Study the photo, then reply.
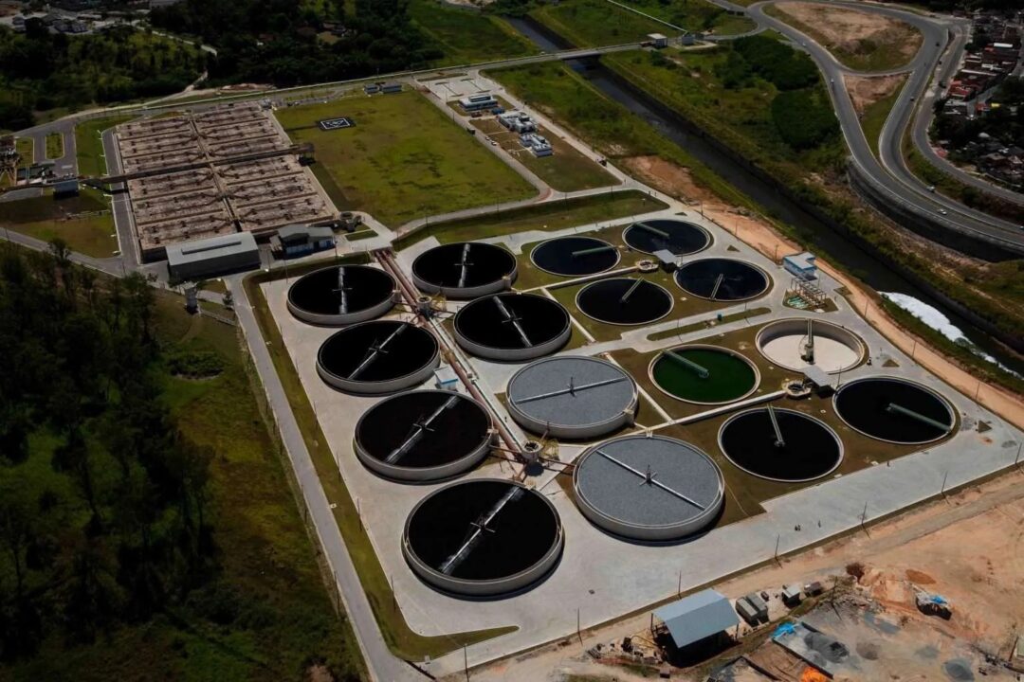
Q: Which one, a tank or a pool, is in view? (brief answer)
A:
tank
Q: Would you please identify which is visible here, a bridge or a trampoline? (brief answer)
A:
bridge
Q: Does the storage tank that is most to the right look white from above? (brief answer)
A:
No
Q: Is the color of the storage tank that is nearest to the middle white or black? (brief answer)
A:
black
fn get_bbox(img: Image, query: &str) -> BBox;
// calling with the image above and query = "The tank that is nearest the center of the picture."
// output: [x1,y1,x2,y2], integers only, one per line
[453,291,574,363]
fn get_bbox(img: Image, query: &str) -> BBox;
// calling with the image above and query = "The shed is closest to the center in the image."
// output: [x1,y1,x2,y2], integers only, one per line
[433,366,459,391]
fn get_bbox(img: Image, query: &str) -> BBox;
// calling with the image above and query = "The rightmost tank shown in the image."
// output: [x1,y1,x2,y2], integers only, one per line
[832,377,958,447]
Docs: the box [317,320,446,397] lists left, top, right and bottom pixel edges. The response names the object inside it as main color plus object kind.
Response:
black storage tank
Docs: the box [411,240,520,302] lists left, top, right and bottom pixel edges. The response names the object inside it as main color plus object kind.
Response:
black storage tank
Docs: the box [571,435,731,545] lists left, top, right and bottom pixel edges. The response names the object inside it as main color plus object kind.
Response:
gray storage tank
